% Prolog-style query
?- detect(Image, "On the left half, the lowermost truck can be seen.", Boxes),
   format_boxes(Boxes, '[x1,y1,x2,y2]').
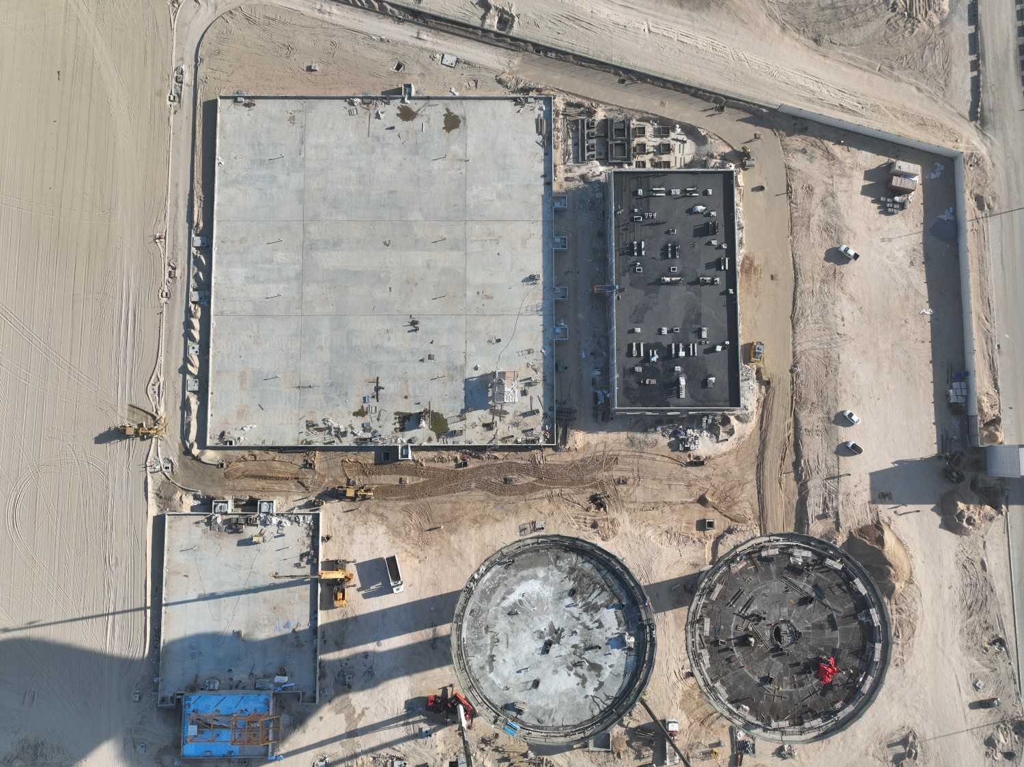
[383,556,404,597]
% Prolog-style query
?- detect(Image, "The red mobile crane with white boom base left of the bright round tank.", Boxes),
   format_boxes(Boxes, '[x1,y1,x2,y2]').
[420,686,473,767]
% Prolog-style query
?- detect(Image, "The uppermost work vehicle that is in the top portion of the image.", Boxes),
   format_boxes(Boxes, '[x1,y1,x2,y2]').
[743,149,755,168]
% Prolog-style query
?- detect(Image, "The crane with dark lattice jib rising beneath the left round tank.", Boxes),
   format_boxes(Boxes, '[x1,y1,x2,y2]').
[636,694,690,767]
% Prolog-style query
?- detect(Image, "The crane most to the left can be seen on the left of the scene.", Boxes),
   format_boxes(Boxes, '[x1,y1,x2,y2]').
[270,557,356,608]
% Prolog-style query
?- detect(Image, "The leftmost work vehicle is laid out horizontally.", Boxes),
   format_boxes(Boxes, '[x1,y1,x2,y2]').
[118,422,162,438]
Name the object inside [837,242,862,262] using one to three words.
vehicle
